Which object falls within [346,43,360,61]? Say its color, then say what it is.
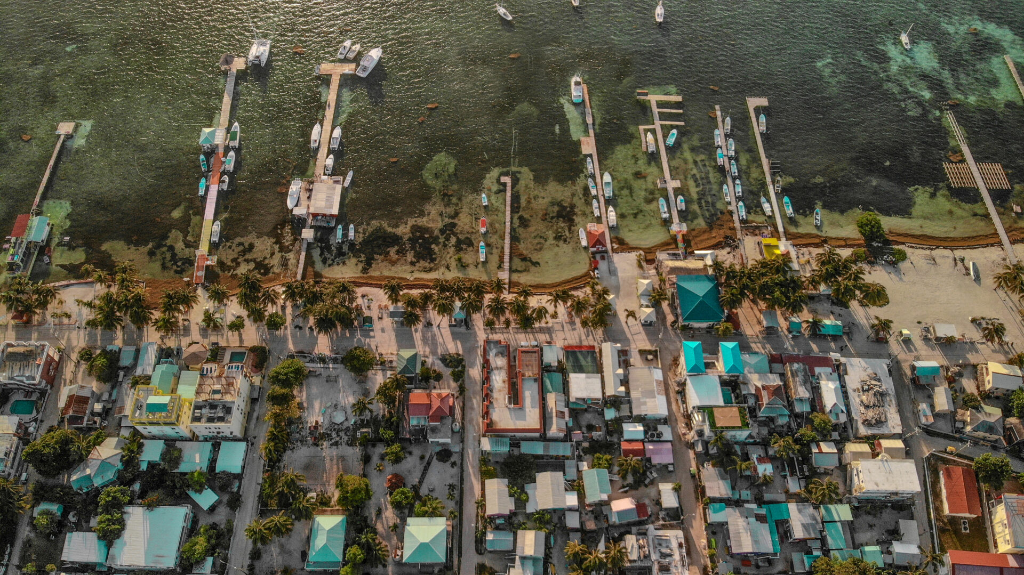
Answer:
white boat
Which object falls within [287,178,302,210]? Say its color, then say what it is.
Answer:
white boat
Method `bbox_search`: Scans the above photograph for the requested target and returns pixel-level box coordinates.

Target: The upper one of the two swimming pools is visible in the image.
[223,350,249,363]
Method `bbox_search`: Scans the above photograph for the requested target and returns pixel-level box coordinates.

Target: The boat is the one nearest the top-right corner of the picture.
[901,20,916,51]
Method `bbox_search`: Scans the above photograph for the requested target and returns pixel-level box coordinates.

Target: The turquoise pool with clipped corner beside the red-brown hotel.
[4,393,40,421]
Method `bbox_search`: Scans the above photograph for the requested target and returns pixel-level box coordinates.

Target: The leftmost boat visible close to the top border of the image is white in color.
[246,12,272,67]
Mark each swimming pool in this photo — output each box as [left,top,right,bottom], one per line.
[223,350,249,363]
[4,393,40,421]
